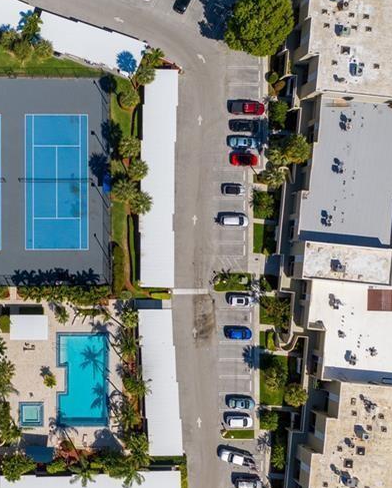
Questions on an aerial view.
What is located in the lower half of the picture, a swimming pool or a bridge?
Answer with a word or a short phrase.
swimming pool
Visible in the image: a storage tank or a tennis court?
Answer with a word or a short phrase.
tennis court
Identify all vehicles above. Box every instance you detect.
[230,152,255,166]
[227,397,255,411]
[235,478,263,488]
[173,0,189,16]
[220,214,248,227]
[222,449,253,467]
[229,119,257,132]
[226,416,255,430]
[227,295,255,308]
[229,101,262,114]
[225,327,252,340]
[228,135,256,148]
